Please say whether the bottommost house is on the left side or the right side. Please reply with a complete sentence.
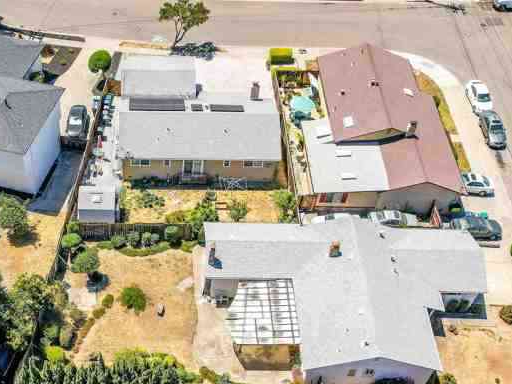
The bottommost house sits on the right side.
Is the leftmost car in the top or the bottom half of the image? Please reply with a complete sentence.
Seen from above, the leftmost car lies in the top half of the view.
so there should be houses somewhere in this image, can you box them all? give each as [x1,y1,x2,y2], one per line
[119,55,282,194]
[0,33,65,194]
[299,43,466,213]
[204,213,488,384]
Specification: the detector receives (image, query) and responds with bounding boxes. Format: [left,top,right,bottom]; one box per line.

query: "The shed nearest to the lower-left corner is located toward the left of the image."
[77,186,118,224]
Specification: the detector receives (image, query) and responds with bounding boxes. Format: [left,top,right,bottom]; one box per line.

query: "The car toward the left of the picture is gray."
[62,100,90,140]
